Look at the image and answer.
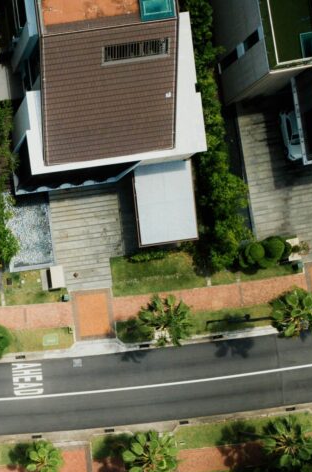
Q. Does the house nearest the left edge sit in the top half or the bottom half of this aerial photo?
top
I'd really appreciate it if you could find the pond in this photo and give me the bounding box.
[0,191,54,271]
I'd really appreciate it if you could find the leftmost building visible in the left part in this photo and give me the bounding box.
[1,0,205,249]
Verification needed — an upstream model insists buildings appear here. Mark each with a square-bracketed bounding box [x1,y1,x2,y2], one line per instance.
[218,0,312,170]
[1,0,205,249]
